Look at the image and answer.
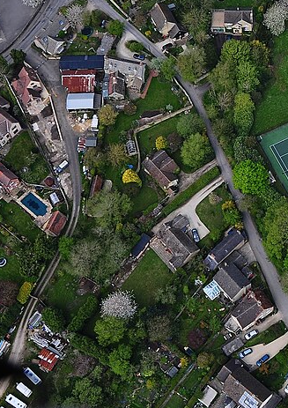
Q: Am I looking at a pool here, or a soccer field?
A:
pool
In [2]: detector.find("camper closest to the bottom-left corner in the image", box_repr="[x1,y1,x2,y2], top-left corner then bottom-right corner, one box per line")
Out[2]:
[8,395,24,408]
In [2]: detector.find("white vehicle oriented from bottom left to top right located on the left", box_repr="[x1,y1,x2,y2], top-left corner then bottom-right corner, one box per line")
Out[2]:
[54,160,70,172]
